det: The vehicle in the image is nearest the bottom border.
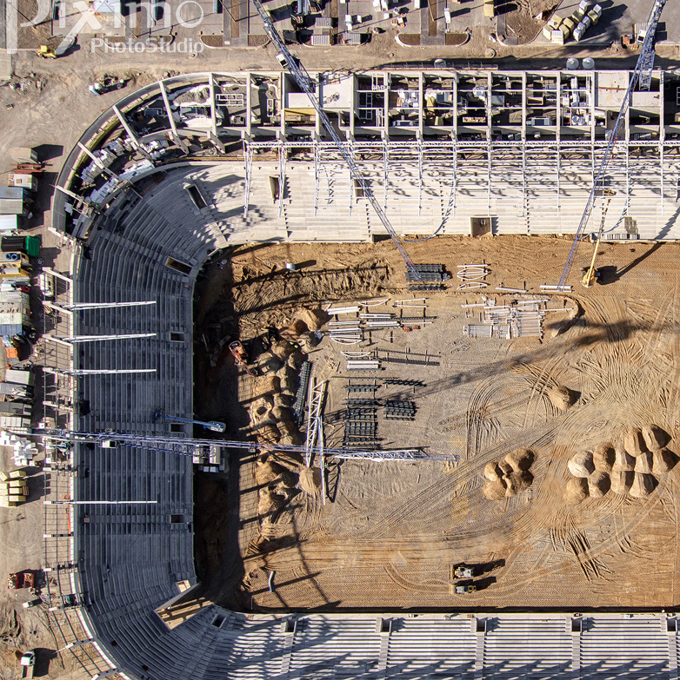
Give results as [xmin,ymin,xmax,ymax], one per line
[15,653,33,680]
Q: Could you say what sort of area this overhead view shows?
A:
sports ground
